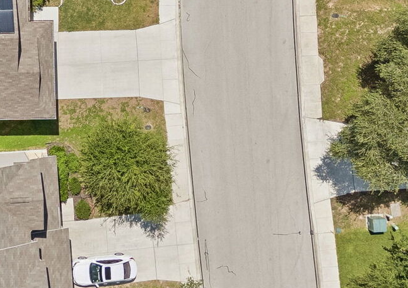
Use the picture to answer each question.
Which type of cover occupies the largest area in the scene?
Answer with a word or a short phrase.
paved ground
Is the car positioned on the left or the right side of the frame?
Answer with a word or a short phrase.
left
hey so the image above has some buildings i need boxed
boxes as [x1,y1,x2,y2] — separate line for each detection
[0,0,58,123]
[0,151,72,288]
